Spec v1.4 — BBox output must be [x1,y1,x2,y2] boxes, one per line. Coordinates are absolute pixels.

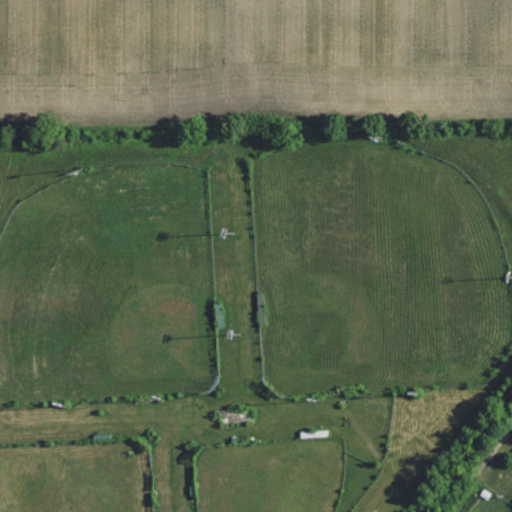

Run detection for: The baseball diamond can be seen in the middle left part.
[0,164,218,398]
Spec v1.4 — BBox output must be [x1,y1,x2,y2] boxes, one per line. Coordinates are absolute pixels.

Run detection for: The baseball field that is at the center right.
[250,144,512,395]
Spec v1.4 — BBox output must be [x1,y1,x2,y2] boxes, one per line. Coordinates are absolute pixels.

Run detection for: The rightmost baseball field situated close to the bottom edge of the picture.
[196,444,345,512]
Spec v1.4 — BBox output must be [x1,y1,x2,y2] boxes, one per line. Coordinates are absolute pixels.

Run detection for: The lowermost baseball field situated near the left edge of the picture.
[0,447,152,512]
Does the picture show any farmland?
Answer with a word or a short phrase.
Yes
